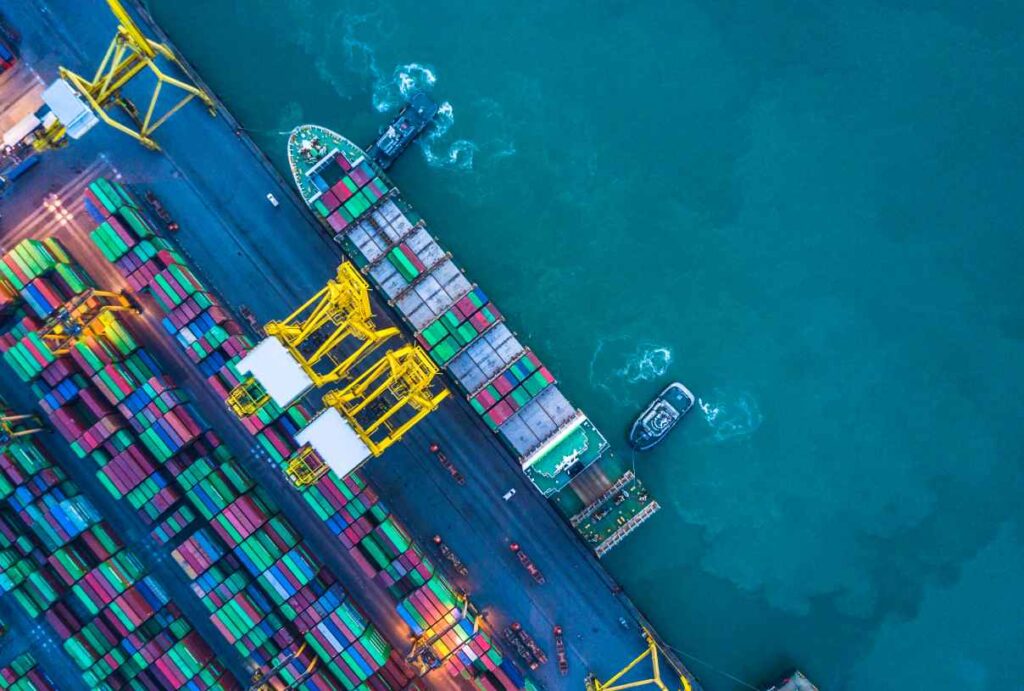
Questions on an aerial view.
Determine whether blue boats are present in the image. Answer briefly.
Yes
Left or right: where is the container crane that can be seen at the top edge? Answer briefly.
left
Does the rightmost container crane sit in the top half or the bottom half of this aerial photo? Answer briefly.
bottom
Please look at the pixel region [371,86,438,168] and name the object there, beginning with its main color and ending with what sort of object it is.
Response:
blue boat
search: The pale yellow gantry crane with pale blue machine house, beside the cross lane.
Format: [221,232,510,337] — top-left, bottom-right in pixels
[4,0,219,163]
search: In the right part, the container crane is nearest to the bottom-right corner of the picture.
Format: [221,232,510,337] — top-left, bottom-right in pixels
[582,627,689,691]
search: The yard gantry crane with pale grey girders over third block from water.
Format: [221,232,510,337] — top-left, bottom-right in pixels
[245,639,320,691]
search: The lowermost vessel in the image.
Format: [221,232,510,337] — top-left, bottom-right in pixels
[764,664,820,691]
